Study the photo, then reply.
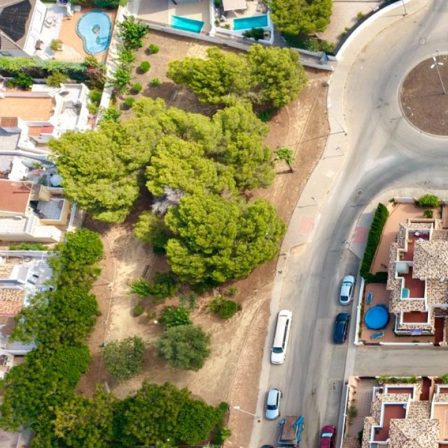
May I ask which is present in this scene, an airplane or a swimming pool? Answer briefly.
swimming pool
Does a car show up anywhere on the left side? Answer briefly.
No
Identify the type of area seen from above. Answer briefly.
residential area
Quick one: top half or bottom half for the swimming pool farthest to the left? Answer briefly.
top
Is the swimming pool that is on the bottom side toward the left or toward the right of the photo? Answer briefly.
right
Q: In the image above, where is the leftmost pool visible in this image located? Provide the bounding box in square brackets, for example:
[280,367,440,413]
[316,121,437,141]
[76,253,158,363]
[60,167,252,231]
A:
[75,8,114,54]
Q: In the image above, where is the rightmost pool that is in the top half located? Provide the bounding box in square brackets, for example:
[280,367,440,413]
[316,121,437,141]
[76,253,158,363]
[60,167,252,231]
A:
[232,14,269,32]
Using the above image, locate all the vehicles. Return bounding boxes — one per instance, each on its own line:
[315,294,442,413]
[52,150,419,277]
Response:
[263,388,282,420]
[272,309,293,366]
[332,313,350,343]
[339,278,355,303]
[282,415,307,448]
[320,426,337,448]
